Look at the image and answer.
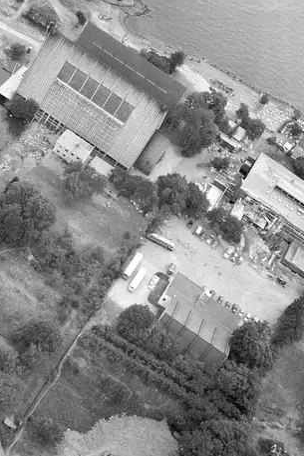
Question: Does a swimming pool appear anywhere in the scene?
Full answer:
No, I find no swimming pool anywhere in the image.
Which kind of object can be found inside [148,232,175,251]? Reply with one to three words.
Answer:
vehicle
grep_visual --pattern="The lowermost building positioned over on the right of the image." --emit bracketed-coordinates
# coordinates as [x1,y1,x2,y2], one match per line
[152,275,245,372]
